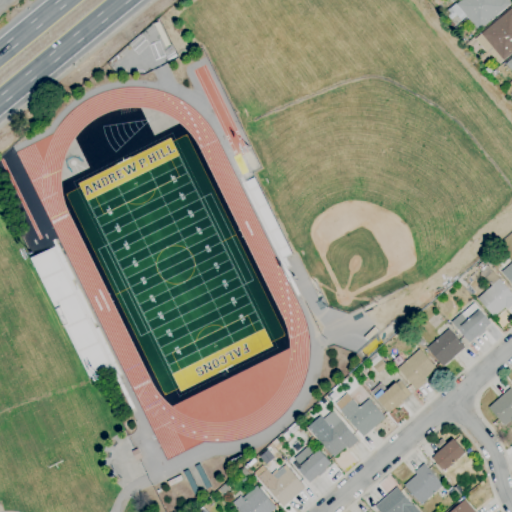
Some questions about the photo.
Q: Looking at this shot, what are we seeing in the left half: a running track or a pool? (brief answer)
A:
running track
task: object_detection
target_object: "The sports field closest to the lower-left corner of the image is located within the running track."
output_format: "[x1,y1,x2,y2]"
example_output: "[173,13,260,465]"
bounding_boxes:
[66,133,285,396]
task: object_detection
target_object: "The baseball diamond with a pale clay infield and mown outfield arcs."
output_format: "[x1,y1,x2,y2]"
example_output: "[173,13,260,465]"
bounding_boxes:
[246,78,512,311]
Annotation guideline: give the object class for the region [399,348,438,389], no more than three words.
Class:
house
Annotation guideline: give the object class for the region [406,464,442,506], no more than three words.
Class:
house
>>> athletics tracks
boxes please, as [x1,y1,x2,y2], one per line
[17,86,310,458]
